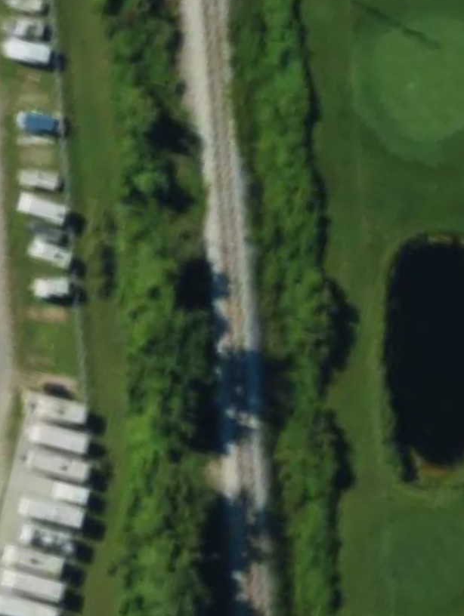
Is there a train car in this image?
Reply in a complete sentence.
No, no train car can be seen from above.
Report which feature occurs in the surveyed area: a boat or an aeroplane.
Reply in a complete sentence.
Of the two, only a boat appears.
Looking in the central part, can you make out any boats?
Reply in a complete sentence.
No, there's no boat to be seen in the central part.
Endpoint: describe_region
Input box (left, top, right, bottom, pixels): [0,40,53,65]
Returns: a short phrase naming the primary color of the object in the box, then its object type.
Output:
white trailer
